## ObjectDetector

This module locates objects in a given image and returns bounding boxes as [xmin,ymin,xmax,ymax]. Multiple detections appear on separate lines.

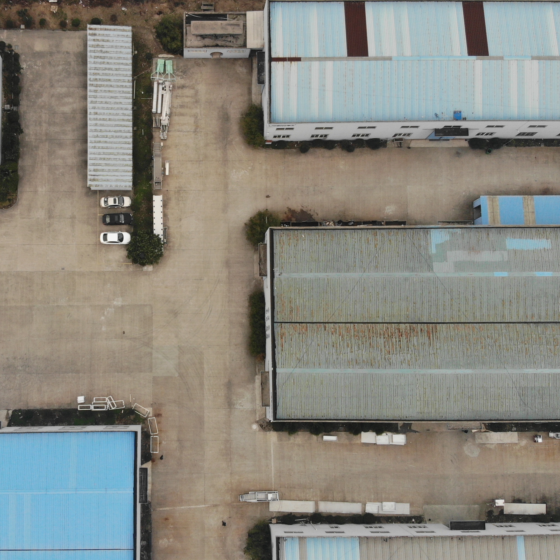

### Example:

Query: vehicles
[100,231,130,245]
[102,212,133,226]
[100,196,132,210]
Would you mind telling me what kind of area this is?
industrial area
